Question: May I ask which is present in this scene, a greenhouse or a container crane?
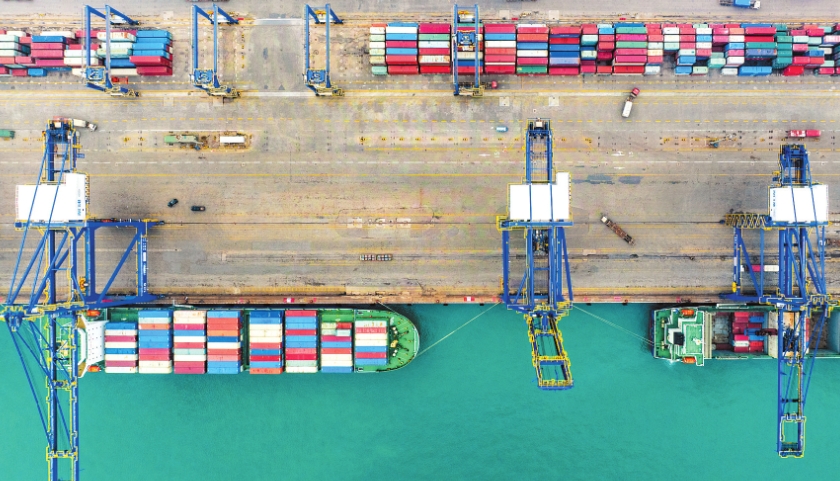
container crane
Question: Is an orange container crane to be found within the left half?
No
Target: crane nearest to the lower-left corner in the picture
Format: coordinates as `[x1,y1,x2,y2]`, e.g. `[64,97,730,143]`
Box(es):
[3,117,166,481]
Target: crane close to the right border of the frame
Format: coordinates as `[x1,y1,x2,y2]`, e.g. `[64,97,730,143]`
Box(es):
[714,139,833,464]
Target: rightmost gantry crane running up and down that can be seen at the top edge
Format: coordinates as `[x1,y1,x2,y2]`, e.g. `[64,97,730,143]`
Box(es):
[450,4,487,100]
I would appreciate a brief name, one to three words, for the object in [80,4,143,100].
container crane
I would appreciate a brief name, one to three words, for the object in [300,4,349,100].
container crane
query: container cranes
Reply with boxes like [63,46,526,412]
[450,4,487,100]
[493,118,575,392]
[3,117,166,481]
[188,4,243,100]
[714,139,833,464]
[80,4,143,100]
[300,4,349,100]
